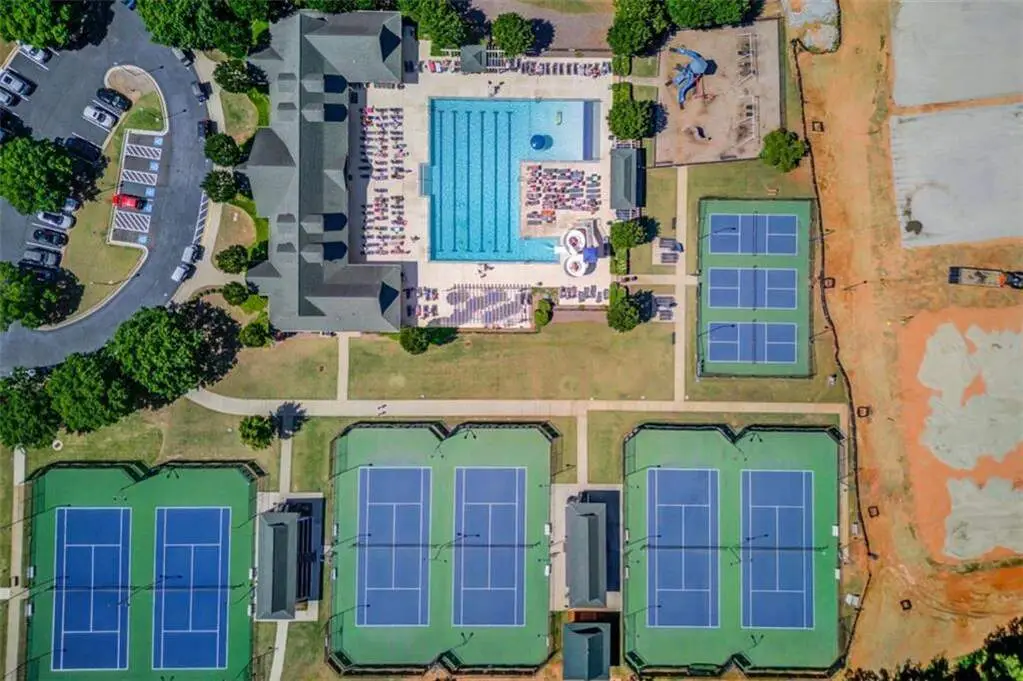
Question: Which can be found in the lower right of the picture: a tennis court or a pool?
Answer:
tennis court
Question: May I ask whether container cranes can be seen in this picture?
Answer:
No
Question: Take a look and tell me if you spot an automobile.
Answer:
Yes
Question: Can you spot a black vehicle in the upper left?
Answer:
Yes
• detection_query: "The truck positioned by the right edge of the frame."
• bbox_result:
[949,265,1023,290]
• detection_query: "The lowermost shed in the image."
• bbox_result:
[564,616,610,681]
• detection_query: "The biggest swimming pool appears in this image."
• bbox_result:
[418,96,602,264]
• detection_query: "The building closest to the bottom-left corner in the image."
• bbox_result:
[258,510,317,618]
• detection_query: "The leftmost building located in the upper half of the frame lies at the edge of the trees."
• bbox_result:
[235,10,403,333]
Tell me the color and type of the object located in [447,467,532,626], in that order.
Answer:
blue tennis court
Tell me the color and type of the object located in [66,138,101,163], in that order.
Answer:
black car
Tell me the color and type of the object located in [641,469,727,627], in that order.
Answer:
blue tennis court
